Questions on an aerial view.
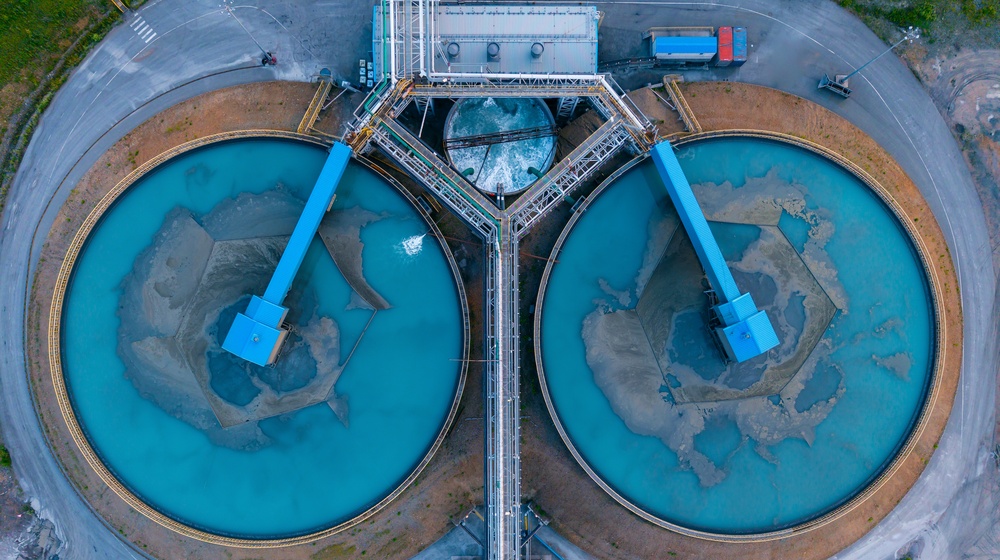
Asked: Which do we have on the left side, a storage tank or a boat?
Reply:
storage tank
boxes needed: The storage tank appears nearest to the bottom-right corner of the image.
[535,128,947,542]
